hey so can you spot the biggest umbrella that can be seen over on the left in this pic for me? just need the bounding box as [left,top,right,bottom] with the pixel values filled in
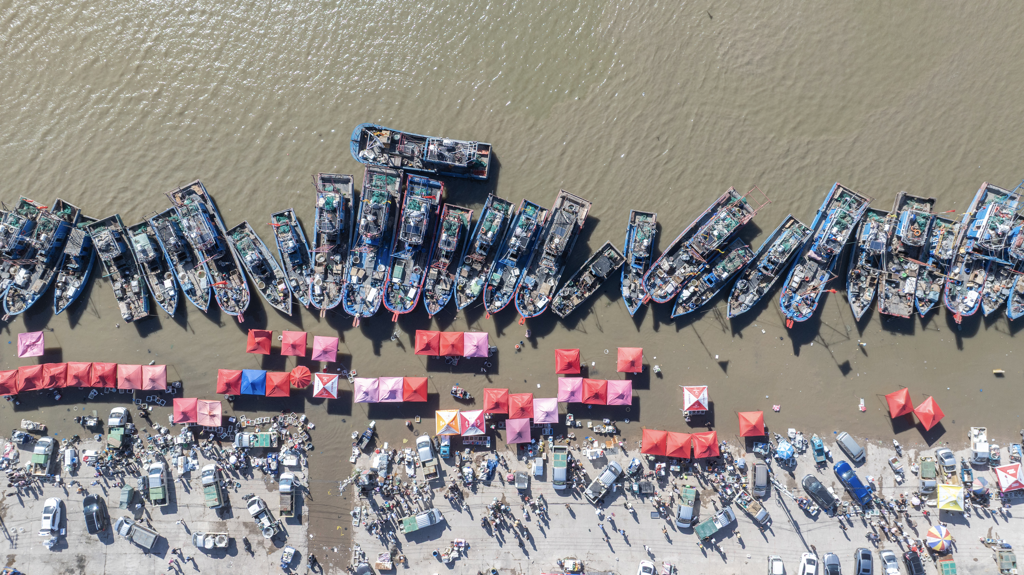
[291,366,312,387]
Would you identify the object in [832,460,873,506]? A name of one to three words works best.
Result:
truck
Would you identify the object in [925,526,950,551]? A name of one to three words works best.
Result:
umbrella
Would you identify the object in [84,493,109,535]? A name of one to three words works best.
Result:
car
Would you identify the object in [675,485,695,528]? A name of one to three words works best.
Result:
vehicle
